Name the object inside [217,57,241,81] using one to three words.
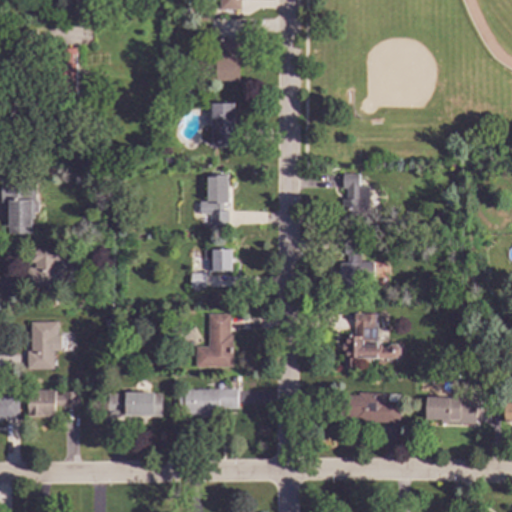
house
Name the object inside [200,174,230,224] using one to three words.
house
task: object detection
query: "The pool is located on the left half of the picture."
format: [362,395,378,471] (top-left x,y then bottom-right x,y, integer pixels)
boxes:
[178,108,202,149]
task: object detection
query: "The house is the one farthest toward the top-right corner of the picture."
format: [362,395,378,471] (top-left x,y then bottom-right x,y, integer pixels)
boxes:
[343,174,371,213]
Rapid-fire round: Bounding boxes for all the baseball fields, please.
[360,37,439,115]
